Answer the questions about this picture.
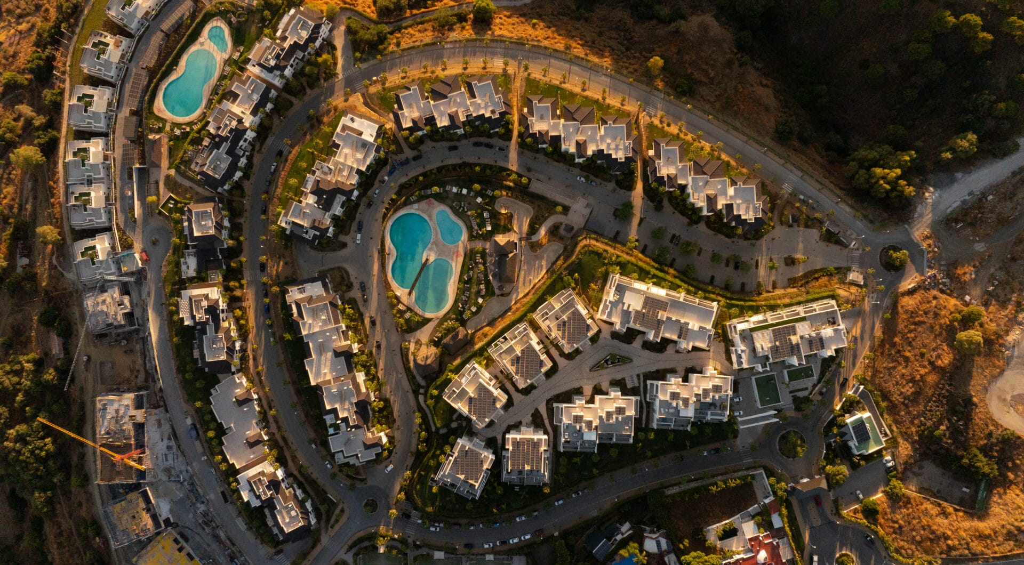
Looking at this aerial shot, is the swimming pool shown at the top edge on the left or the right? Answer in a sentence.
You can find the swimming pool shown at the top edge on the left side of the picture.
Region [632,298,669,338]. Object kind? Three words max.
solar array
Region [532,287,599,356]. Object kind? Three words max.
building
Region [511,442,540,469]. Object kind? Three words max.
solar array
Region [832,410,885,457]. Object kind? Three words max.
house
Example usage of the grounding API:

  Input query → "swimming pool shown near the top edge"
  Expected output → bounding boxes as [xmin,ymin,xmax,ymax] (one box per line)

[153,17,232,123]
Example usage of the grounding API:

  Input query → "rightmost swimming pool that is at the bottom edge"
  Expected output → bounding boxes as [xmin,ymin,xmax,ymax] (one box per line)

[720,528,738,541]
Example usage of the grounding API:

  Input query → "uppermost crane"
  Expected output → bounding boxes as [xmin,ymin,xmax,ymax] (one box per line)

[62,250,138,390]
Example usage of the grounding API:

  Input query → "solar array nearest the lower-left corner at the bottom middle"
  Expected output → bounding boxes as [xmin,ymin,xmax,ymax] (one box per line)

[457,451,482,482]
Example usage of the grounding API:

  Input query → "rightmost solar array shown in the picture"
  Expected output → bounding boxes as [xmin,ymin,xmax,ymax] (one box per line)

[853,423,871,445]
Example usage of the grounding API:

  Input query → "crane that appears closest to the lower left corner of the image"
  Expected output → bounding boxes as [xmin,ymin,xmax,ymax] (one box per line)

[35,418,149,472]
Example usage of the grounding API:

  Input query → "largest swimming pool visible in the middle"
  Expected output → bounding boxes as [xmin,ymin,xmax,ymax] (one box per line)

[385,198,467,318]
